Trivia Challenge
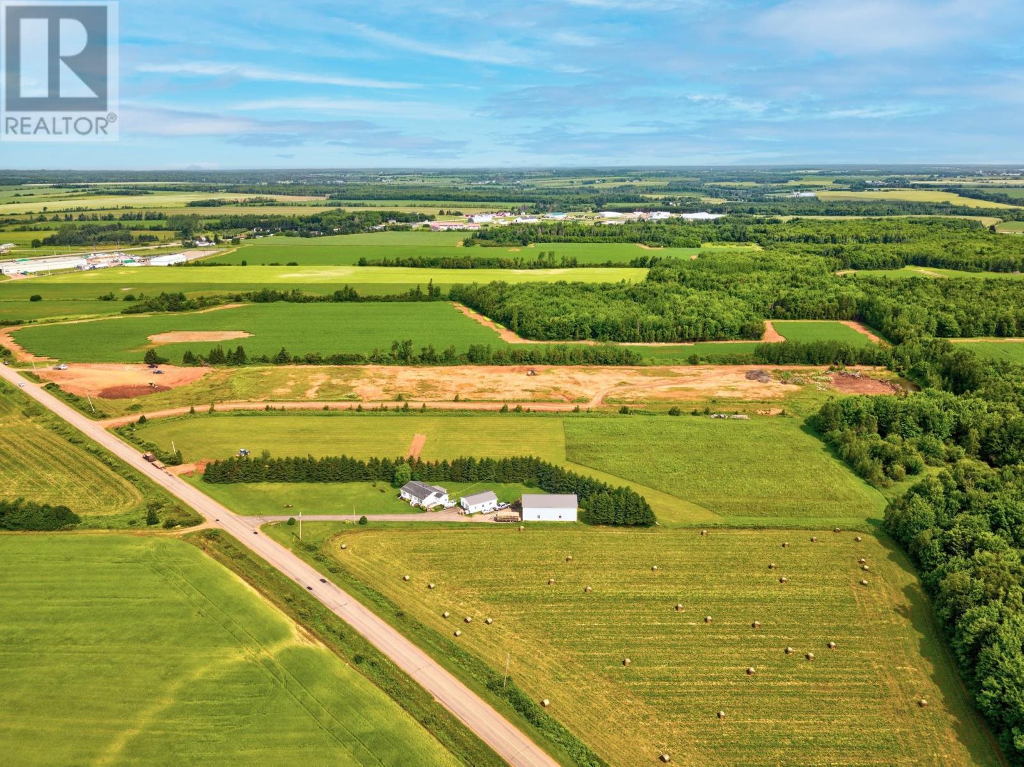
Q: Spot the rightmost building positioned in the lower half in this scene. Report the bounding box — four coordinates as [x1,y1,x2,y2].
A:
[522,491,577,521]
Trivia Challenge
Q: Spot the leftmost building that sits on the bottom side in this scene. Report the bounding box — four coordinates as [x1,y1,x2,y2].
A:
[399,479,457,511]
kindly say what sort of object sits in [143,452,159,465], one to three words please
vehicle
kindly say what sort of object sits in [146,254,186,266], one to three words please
shed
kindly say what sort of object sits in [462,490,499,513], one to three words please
building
